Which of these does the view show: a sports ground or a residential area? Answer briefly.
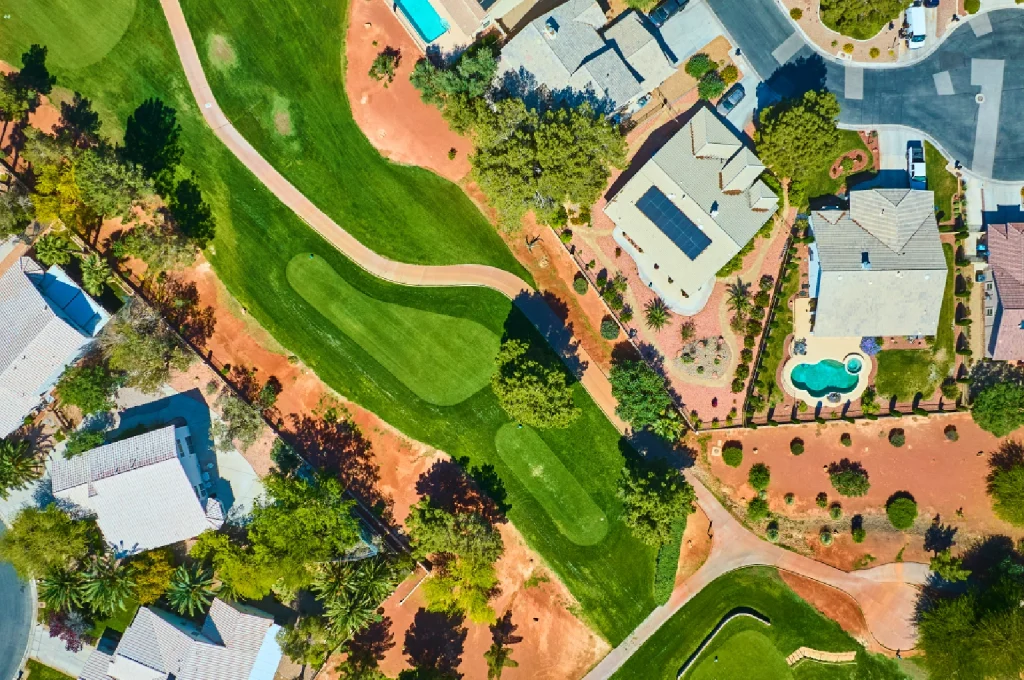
residential area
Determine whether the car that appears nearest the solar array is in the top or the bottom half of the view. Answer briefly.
top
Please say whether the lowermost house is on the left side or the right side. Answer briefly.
left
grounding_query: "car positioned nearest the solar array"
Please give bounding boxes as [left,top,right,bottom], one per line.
[714,82,748,113]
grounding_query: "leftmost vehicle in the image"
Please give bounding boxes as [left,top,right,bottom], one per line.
[649,0,689,24]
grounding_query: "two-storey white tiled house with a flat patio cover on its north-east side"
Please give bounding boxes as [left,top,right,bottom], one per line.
[0,257,122,455]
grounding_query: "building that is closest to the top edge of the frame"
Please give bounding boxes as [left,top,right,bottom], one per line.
[444,0,501,36]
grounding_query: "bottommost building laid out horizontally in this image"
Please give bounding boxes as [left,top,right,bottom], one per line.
[85,591,284,680]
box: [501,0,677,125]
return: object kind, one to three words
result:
house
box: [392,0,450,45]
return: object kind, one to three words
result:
swimming pool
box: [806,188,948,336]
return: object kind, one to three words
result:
house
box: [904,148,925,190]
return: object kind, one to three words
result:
truck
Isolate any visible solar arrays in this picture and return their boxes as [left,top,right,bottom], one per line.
[636,186,711,260]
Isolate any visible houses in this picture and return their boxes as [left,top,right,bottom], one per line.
[806,188,948,336]
[85,591,284,680]
[977,221,1024,360]
[51,424,228,556]
[501,0,677,125]
[444,0,501,36]
[0,257,122,455]
[603,106,780,290]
